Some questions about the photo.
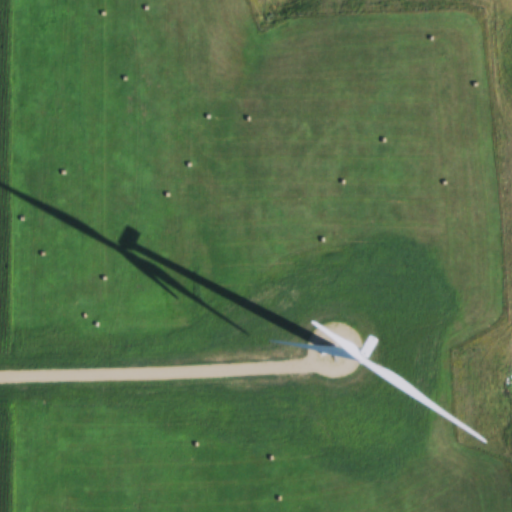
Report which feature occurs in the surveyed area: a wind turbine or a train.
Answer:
wind turbine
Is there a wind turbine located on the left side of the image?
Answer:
No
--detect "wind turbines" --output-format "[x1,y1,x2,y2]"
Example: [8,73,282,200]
[272,320,486,442]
